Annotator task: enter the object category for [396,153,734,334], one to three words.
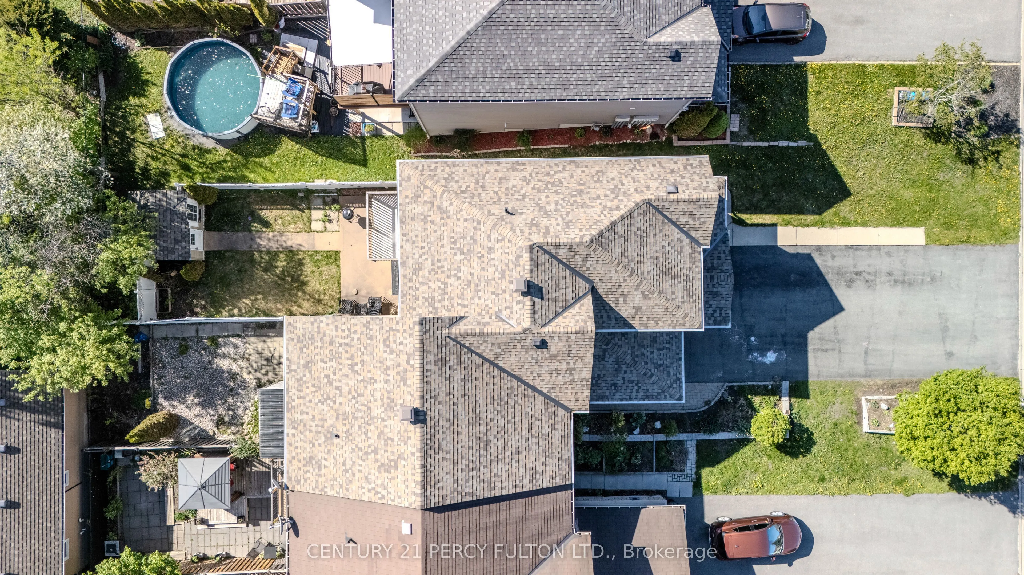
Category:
house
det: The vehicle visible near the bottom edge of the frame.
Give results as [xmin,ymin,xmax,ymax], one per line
[707,511,800,560]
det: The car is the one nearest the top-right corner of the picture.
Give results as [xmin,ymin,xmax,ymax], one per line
[733,0,814,43]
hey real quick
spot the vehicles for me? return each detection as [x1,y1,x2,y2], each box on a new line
[733,0,814,43]
[707,511,800,560]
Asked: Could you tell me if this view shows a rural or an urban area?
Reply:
urban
